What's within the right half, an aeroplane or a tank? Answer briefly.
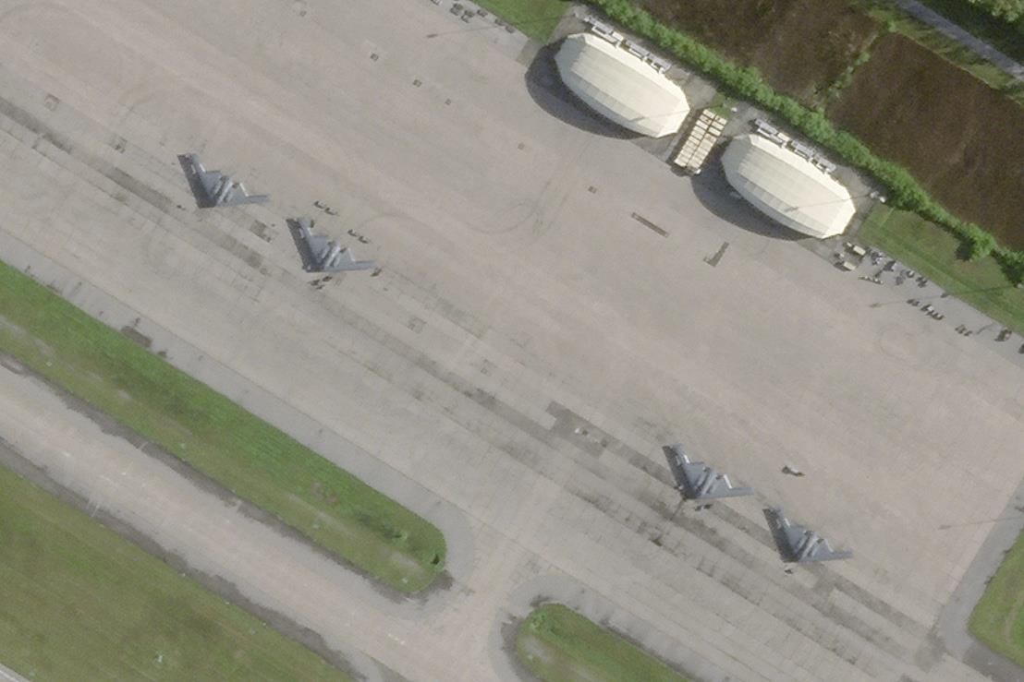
aeroplane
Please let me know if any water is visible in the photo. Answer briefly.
No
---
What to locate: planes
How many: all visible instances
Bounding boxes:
[678,445,752,499]
[301,216,378,270]
[193,150,270,205]
[776,507,850,561]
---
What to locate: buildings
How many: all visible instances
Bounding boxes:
[554,33,691,138]
[723,135,858,240]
